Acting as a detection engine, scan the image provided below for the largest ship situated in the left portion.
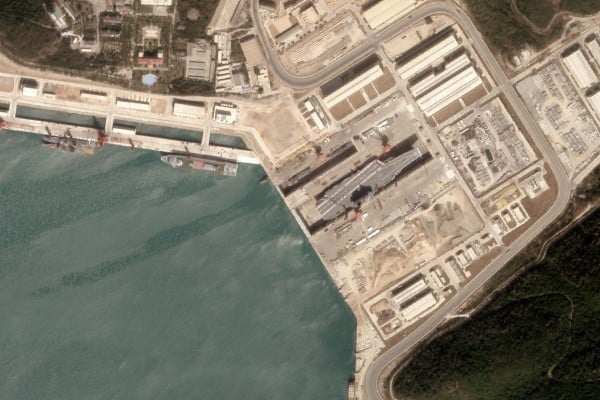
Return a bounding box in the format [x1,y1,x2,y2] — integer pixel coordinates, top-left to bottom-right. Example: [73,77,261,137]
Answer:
[161,155,238,175]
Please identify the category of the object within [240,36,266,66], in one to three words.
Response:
building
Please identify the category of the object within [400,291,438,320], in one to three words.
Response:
building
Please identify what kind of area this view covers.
port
